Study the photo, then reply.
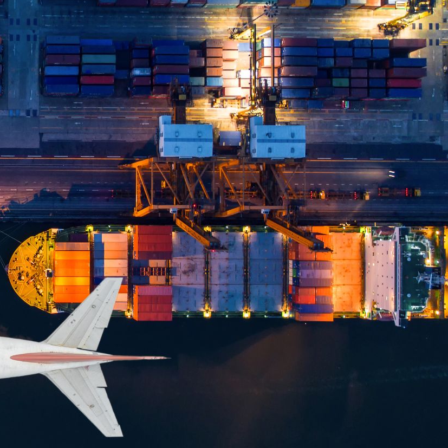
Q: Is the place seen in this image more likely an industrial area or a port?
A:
port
